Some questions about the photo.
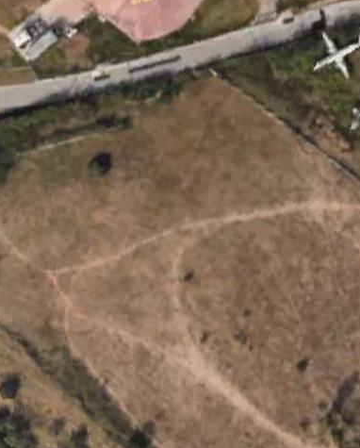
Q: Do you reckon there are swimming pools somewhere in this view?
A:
No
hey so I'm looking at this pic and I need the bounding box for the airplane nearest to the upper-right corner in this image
[314,32,360,77]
